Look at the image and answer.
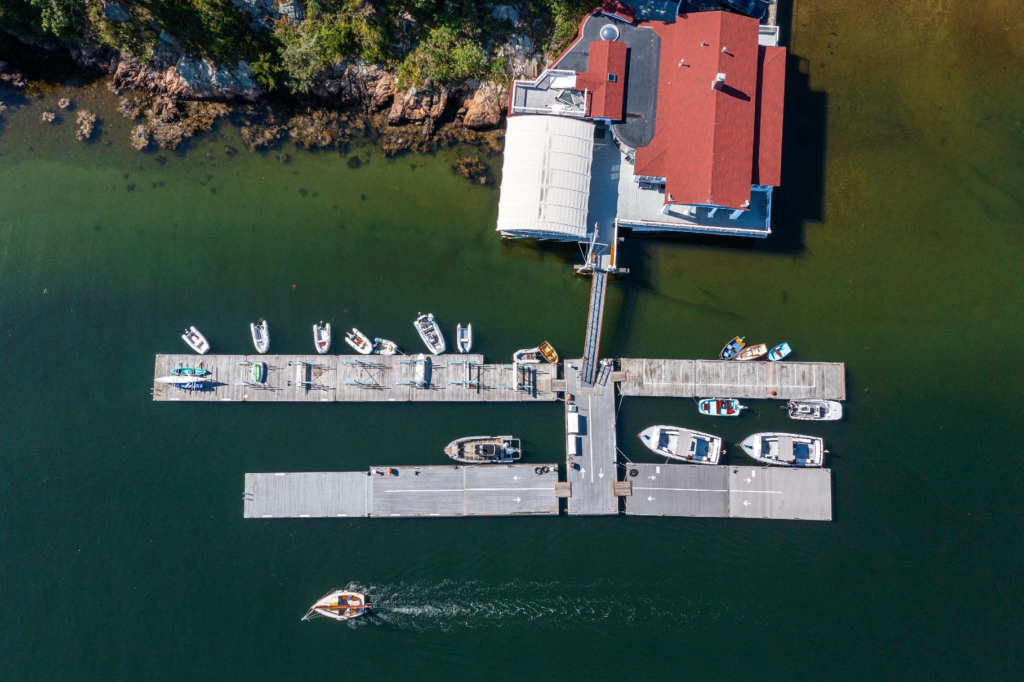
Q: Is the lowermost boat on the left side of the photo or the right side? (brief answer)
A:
left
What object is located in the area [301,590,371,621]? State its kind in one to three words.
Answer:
boat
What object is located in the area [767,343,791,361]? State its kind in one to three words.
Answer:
boat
